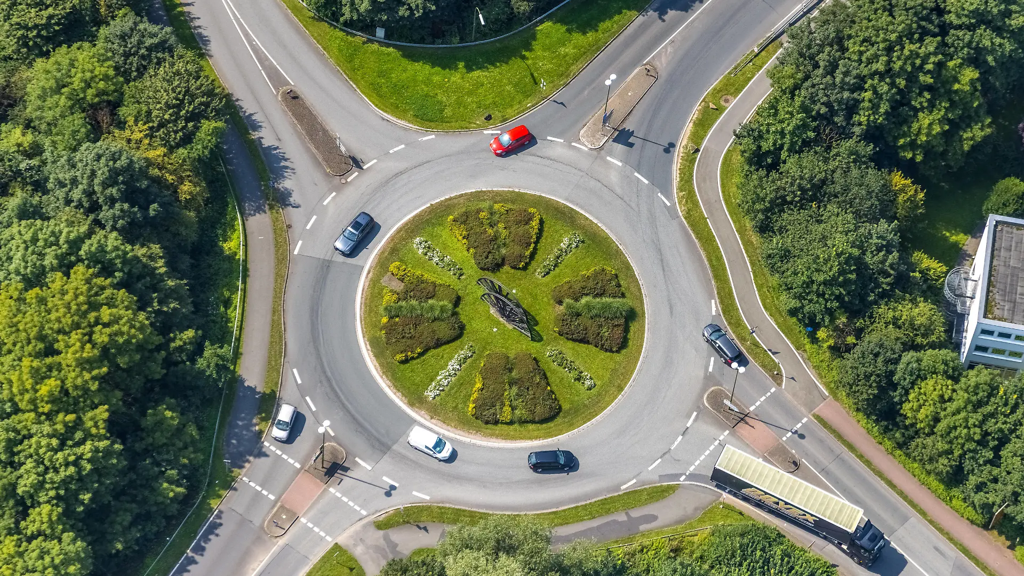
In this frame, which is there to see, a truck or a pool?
truck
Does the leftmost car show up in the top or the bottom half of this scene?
bottom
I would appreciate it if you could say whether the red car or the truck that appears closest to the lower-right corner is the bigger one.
the truck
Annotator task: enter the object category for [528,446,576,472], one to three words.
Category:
car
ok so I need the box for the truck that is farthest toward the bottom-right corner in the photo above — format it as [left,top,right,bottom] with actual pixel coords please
[710,444,888,569]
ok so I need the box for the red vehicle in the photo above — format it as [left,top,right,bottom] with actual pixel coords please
[491,123,532,156]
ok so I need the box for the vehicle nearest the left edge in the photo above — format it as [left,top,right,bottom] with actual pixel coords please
[268,402,301,443]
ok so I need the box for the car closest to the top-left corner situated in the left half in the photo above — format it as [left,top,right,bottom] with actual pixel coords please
[331,212,378,256]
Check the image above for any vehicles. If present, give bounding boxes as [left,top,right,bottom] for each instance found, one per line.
[491,123,532,156]
[406,423,455,463]
[710,444,888,569]
[268,402,301,443]
[528,446,576,472]
[701,322,745,367]
[331,212,378,256]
